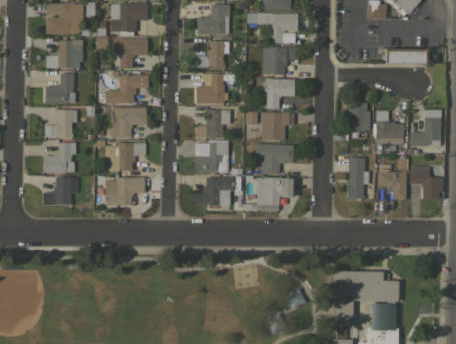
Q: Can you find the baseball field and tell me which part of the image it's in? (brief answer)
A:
bottom left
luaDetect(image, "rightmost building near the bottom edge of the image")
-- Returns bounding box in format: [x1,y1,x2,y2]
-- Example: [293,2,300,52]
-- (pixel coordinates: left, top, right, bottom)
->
[333,271,400,344]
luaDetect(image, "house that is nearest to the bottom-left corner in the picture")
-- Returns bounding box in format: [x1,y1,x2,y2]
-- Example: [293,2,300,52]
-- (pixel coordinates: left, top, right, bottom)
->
[43,177,80,205]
